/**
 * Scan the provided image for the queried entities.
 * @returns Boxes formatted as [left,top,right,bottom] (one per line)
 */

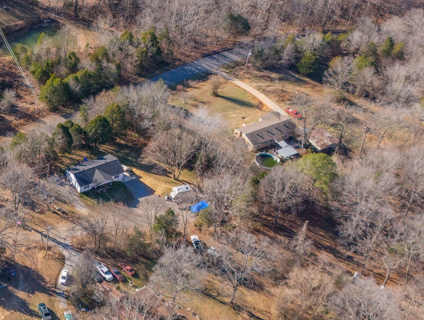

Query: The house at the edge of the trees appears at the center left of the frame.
[67,155,125,195]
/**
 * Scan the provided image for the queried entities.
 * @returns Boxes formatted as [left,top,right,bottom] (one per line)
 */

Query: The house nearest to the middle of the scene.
[233,106,305,159]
